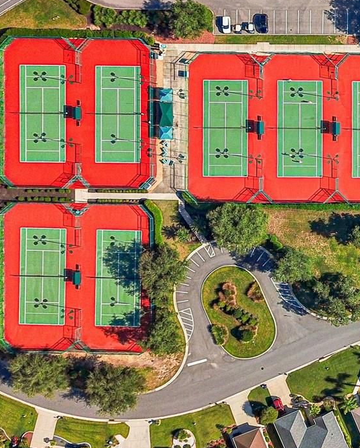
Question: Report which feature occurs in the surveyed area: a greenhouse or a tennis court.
tennis court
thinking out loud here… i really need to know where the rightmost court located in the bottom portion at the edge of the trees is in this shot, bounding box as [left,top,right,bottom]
[77,204,152,353]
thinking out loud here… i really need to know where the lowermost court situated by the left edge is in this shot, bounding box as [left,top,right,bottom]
[4,204,79,353]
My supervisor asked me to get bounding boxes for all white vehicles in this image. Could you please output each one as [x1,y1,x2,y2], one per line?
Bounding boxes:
[236,23,243,33]
[222,15,232,34]
[248,21,255,31]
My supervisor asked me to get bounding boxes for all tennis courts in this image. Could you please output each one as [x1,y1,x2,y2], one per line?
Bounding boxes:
[337,54,360,202]
[77,38,157,187]
[4,38,79,187]
[77,204,152,353]
[188,54,261,202]
[4,204,79,353]
[261,54,337,202]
